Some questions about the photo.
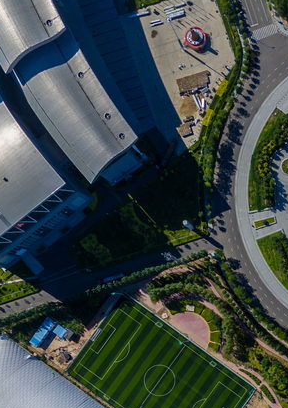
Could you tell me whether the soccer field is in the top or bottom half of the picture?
bottom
